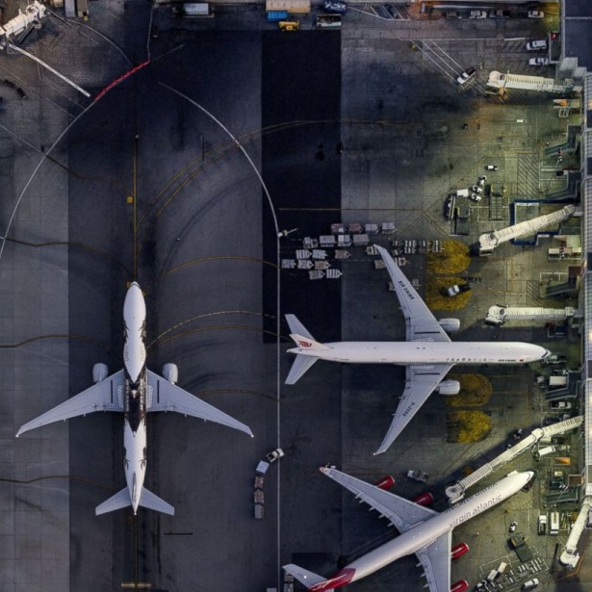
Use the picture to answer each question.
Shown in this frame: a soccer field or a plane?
plane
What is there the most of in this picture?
paved ground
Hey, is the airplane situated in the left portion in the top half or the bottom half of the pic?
bottom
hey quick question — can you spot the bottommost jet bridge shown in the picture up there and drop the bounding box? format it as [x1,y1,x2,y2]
[559,497,592,574]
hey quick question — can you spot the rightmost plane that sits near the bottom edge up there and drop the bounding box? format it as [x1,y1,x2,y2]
[283,467,532,592]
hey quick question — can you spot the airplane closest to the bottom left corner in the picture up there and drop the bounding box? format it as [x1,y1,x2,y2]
[16,284,253,516]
